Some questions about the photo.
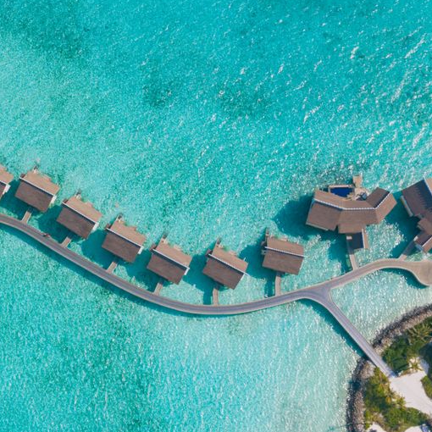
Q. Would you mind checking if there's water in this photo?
Yes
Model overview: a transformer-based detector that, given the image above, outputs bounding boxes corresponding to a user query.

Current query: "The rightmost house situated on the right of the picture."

[259,229,306,277]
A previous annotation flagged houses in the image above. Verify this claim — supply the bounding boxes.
[200,239,248,290]
[14,165,60,215]
[100,215,146,265]
[259,229,306,277]
[55,191,102,240]
[146,235,194,286]
[0,164,13,199]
